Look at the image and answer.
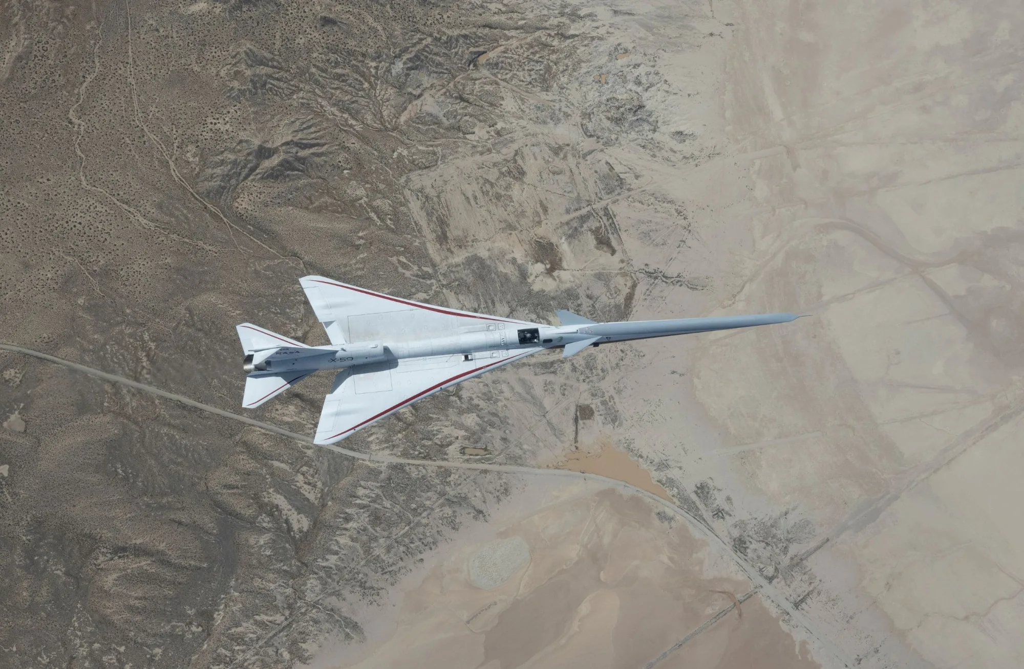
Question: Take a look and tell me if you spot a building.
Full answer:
No, the photo shows no building.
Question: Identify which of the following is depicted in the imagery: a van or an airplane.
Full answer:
Visible in the photo is an airplane.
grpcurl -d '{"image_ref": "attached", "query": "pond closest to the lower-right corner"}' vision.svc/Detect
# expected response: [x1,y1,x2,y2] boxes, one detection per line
[561,443,671,500]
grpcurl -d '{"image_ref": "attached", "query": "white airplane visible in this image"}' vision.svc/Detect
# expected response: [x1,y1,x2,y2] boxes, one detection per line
[237,274,813,444]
